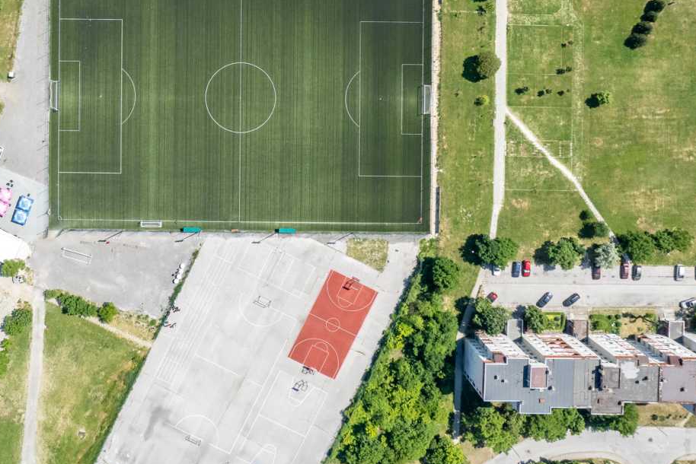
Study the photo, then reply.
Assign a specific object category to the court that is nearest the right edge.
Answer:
basketball court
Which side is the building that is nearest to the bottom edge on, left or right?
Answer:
right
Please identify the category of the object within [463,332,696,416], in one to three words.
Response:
building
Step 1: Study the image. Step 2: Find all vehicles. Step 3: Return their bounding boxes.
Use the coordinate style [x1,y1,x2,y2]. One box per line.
[512,262,520,277]
[620,261,629,278]
[591,264,601,281]
[537,291,552,307]
[522,259,531,277]
[675,263,683,281]
[681,297,696,308]
[563,293,579,307]
[485,289,500,305]
[632,265,641,281]
[493,262,501,278]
